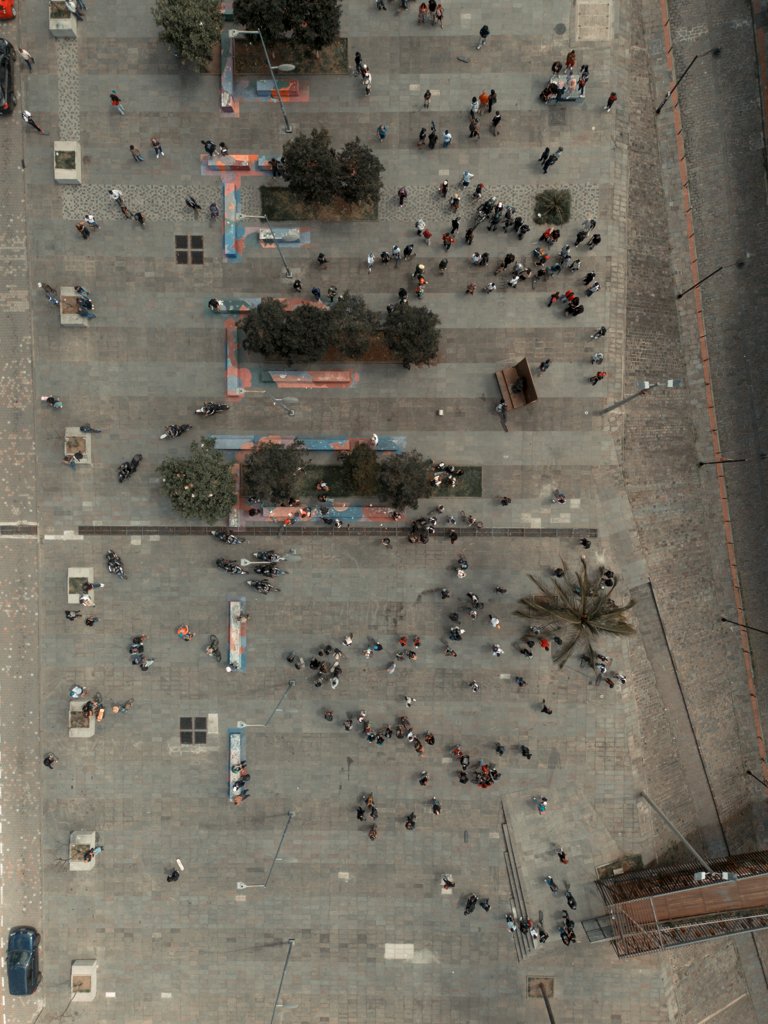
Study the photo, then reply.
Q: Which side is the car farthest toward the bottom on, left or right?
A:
left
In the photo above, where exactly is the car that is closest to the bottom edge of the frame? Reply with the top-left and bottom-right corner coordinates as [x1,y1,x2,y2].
[0,929,39,992]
